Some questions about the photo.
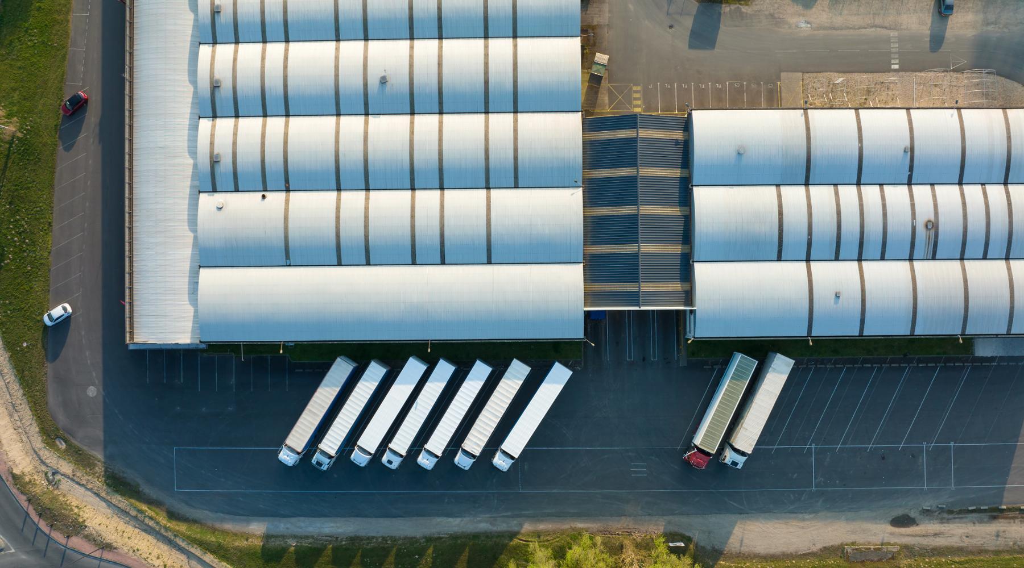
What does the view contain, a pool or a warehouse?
warehouse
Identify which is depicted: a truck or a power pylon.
truck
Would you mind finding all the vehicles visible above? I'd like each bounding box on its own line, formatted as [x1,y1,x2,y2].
[278,355,359,467]
[490,359,572,471]
[935,0,952,15]
[415,357,493,470]
[684,351,757,469]
[349,355,430,468]
[41,303,72,326]
[310,357,392,470]
[452,357,531,470]
[381,356,458,470]
[720,351,795,469]
[59,89,88,113]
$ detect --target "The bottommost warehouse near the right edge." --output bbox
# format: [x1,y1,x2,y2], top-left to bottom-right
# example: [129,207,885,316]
[683,106,1024,343]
